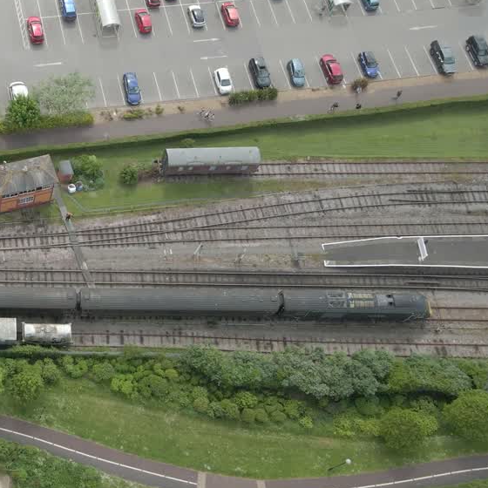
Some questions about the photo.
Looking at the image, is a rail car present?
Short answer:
Yes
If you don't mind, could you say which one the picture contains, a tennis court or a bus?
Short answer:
bus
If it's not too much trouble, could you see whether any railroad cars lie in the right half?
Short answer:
Yes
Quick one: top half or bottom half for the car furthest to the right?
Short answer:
top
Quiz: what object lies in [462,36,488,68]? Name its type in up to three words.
car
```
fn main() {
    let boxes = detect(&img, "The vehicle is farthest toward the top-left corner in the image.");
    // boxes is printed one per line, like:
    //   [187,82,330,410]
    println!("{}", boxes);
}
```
[27,19,44,45]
